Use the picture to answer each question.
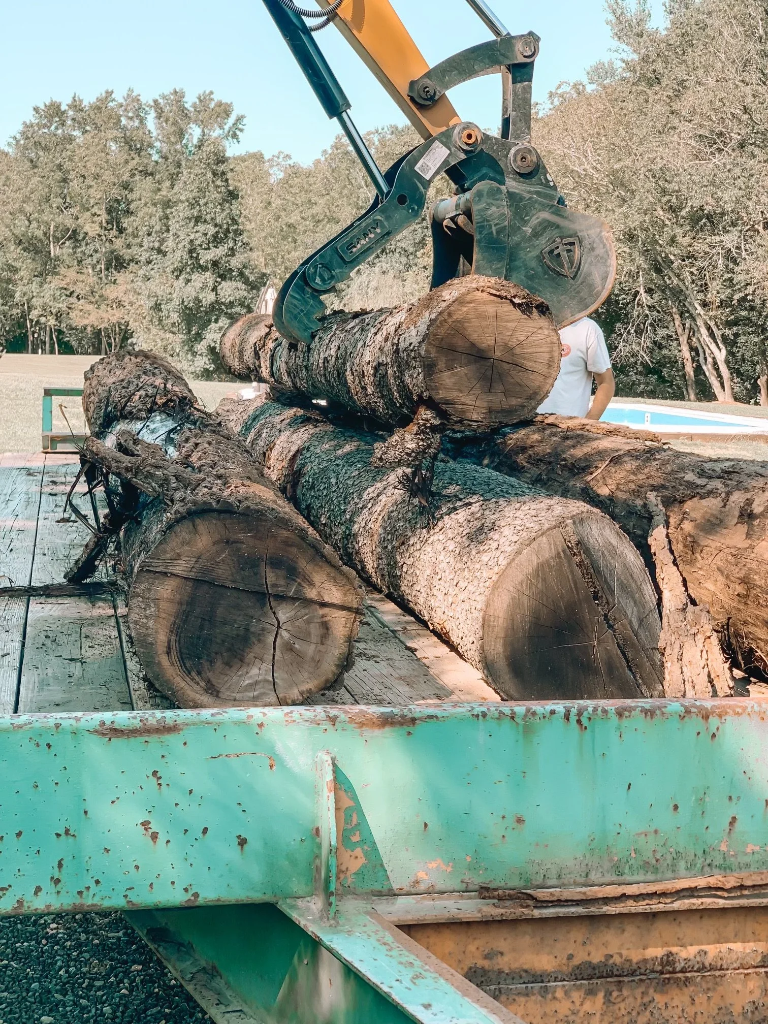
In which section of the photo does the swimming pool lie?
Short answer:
right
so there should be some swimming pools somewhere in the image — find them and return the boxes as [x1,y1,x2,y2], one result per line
[586,404,768,441]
